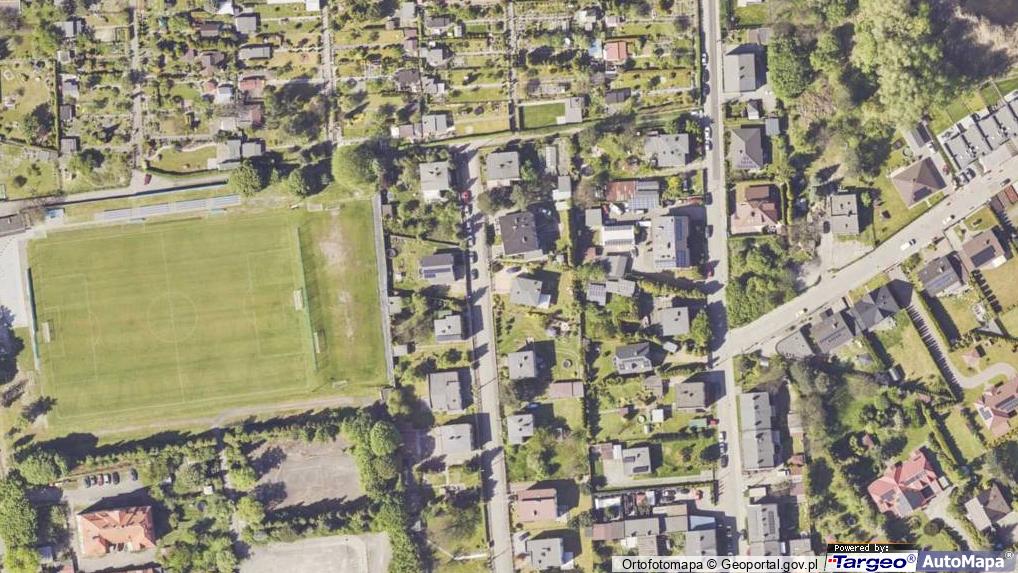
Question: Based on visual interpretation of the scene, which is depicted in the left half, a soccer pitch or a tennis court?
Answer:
soccer pitch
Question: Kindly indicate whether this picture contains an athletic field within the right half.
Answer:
No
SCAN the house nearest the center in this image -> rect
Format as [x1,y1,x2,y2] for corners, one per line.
[510,276,552,308]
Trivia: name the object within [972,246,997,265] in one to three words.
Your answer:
solar panel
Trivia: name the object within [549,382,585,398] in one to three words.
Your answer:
shed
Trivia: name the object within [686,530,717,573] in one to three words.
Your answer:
house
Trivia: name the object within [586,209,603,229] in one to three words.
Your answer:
building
